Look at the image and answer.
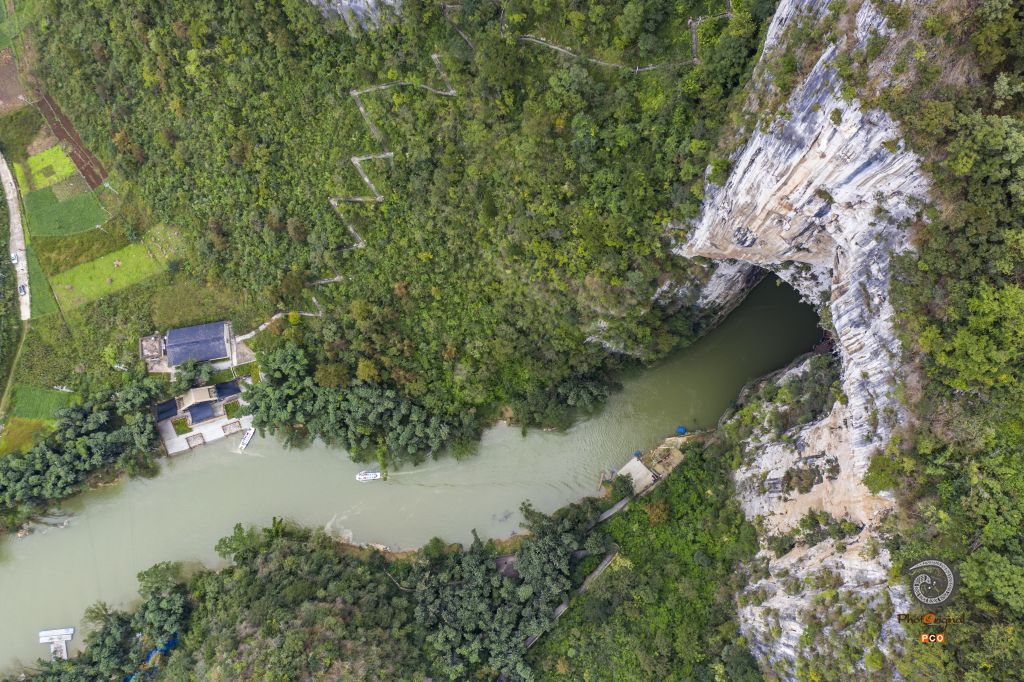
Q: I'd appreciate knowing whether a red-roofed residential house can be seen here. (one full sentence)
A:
No, this view has no red-roofed residential house in it.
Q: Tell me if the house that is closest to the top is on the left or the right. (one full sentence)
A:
The house that is closest to the top sits on the left side.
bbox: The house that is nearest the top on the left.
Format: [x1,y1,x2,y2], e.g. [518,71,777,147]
[165,321,235,366]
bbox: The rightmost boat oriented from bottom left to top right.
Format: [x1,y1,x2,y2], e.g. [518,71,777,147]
[239,429,255,449]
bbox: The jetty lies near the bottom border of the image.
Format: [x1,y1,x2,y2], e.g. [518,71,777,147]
[40,634,73,662]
